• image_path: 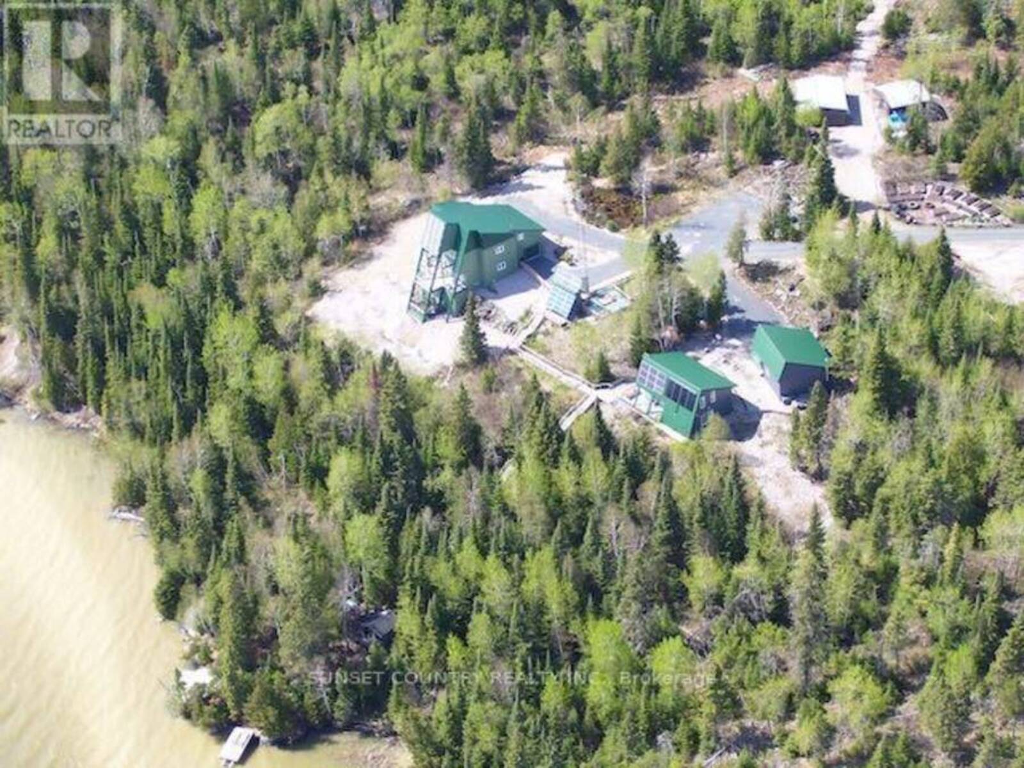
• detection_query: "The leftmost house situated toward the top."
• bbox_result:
[406,202,545,322]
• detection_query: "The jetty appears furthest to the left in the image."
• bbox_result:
[219,728,253,768]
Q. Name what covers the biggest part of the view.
trees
